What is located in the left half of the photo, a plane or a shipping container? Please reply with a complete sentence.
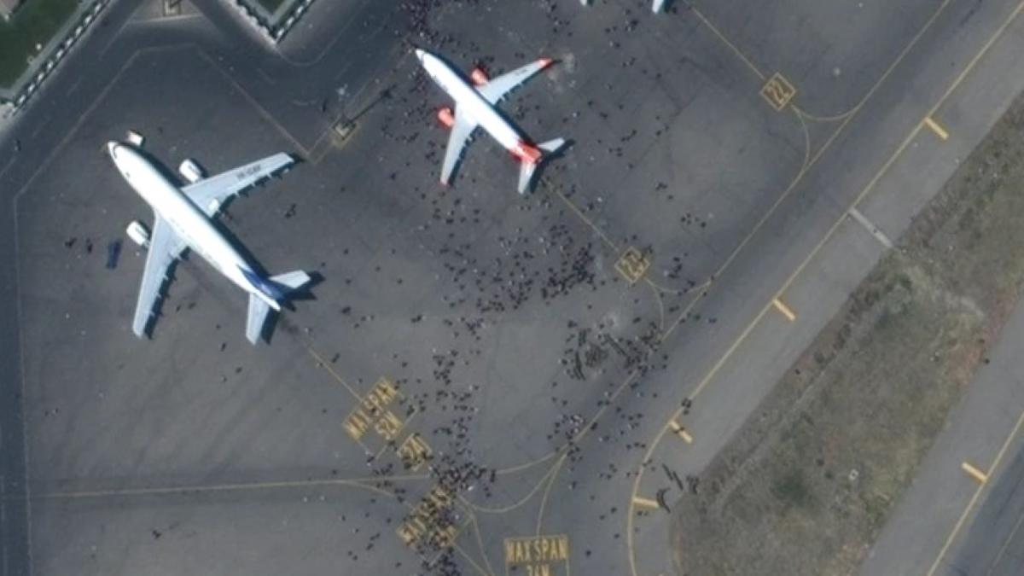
There is a plane in the left half of the photo.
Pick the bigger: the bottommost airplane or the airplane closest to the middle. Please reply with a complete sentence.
The bottommost airplane is larger than the airplane closest to the middle.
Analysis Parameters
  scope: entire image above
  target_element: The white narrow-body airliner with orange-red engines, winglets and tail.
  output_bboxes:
[416,48,567,195]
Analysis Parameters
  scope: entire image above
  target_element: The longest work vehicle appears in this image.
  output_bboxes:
[103,236,120,269]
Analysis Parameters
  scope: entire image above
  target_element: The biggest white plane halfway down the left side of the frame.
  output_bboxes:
[107,142,310,344]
